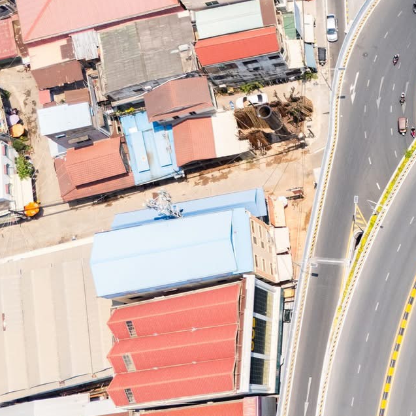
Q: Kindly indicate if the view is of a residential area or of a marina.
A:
residential area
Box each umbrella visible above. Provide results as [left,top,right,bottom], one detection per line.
[11,123,26,139]
[24,202,43,219]
[10,113,22,125]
